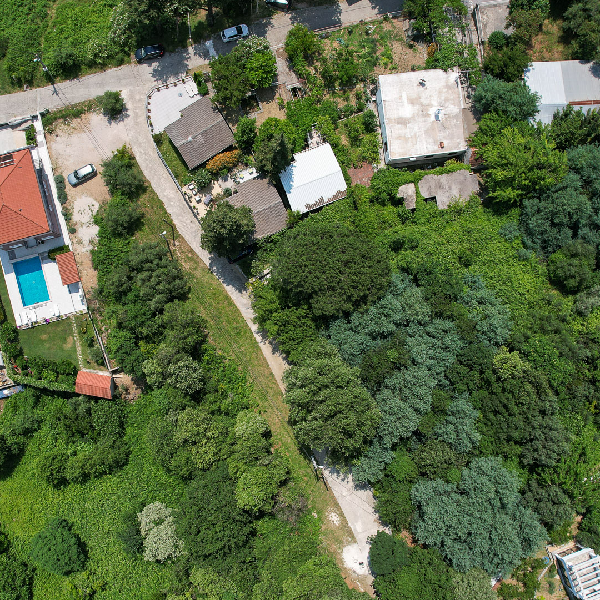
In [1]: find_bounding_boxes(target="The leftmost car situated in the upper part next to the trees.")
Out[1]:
[66,162,100,188]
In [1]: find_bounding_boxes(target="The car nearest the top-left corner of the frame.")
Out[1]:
[133,42,167,64]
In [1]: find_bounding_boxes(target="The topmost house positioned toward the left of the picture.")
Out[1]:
[165,95,235,169]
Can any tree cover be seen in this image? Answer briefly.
Yes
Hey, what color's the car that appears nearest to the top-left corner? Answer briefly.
black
